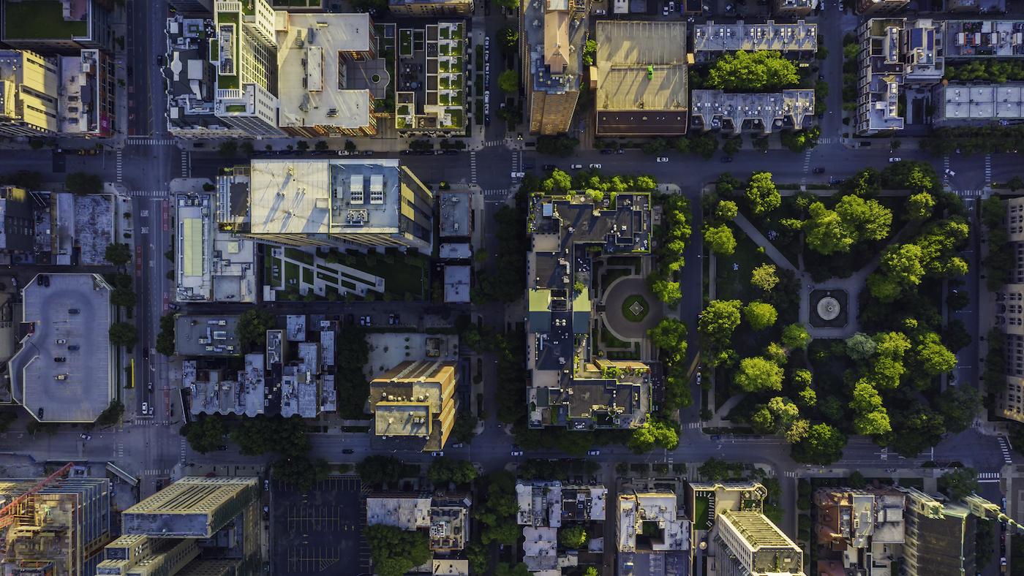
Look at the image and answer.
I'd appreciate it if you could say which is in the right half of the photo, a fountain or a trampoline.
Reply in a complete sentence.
The one visible in the right half of the photo is a fountain.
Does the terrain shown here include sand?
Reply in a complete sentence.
No, there is no sand in the image.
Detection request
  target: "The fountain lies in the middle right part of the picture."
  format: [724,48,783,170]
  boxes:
[809,289,848,328]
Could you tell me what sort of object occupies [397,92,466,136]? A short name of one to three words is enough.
house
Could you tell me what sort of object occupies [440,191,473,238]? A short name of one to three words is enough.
building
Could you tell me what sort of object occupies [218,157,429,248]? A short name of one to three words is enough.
building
